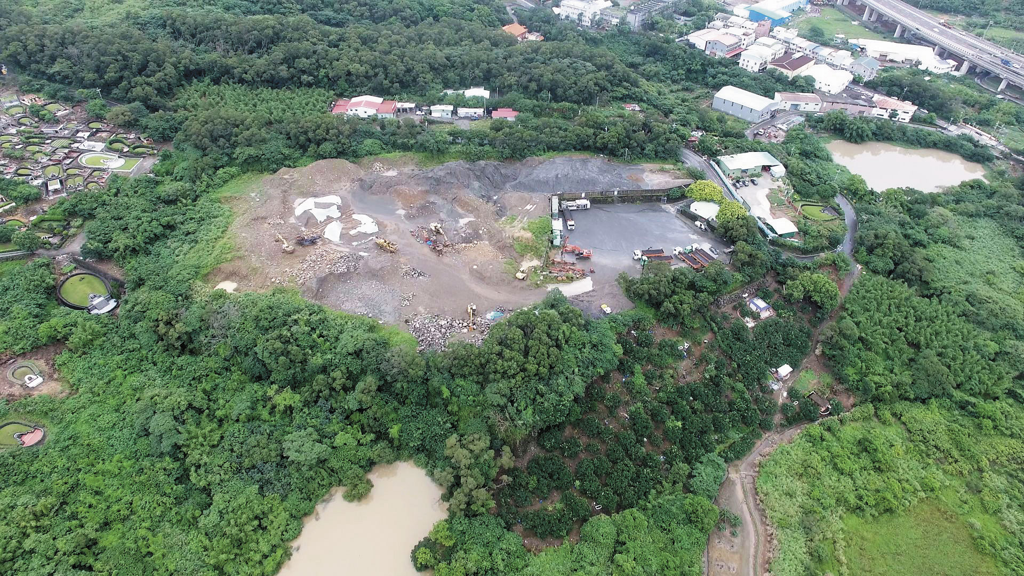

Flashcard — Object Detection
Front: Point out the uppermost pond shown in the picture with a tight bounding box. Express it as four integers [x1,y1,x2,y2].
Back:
[827,138,986,195]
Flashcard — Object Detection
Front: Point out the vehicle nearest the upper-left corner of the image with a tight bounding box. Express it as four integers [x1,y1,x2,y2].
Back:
[279,234,294,254]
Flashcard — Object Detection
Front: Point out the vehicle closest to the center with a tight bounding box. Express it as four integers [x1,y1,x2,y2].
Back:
[517,262,538,280]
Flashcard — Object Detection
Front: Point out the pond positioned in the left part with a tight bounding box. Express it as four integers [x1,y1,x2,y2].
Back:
[274,459,449,576]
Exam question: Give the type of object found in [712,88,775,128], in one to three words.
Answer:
building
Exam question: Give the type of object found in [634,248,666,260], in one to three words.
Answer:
vehicle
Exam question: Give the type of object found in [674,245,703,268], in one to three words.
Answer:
truck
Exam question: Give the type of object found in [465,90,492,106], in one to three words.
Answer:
barn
